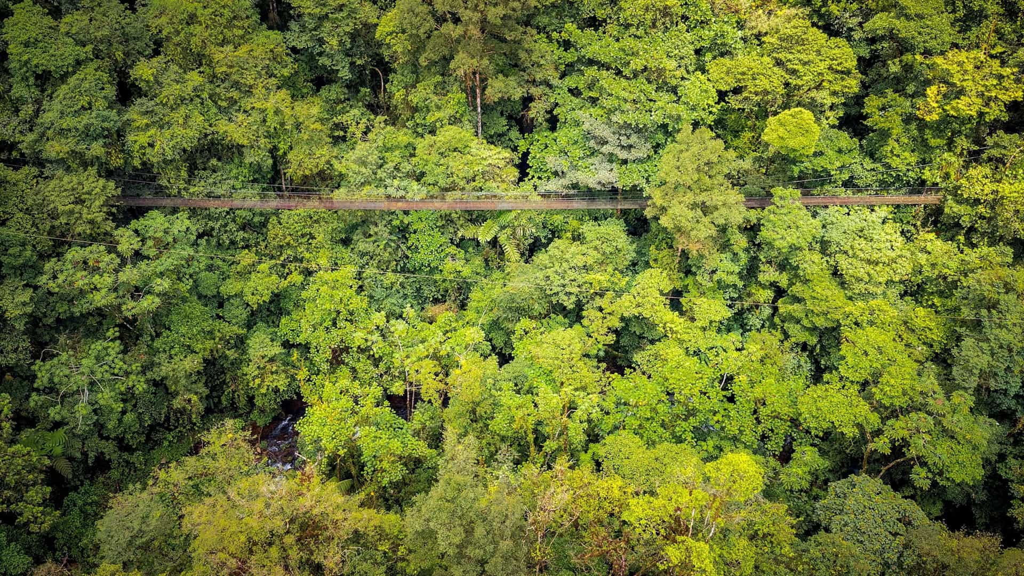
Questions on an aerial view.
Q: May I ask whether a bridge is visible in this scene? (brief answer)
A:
Yes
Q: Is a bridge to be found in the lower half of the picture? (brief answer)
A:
No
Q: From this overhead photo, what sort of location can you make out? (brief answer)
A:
forest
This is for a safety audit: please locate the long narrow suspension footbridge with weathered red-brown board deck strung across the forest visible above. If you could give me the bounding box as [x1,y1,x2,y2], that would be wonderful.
[6,155,1013,212]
